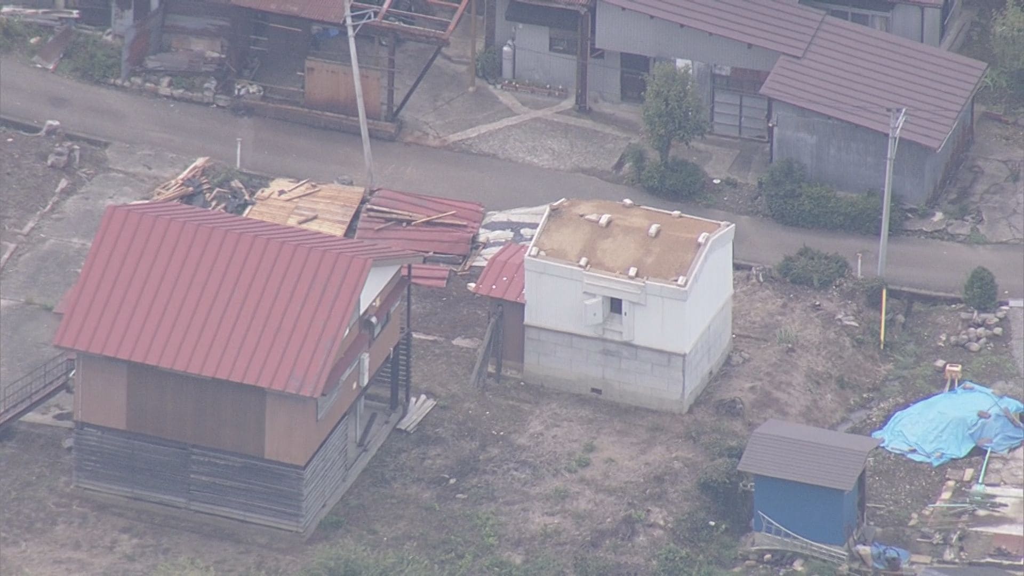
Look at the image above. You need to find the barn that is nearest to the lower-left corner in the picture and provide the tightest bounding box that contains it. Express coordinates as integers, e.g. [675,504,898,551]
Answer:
[53,200,424,538]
